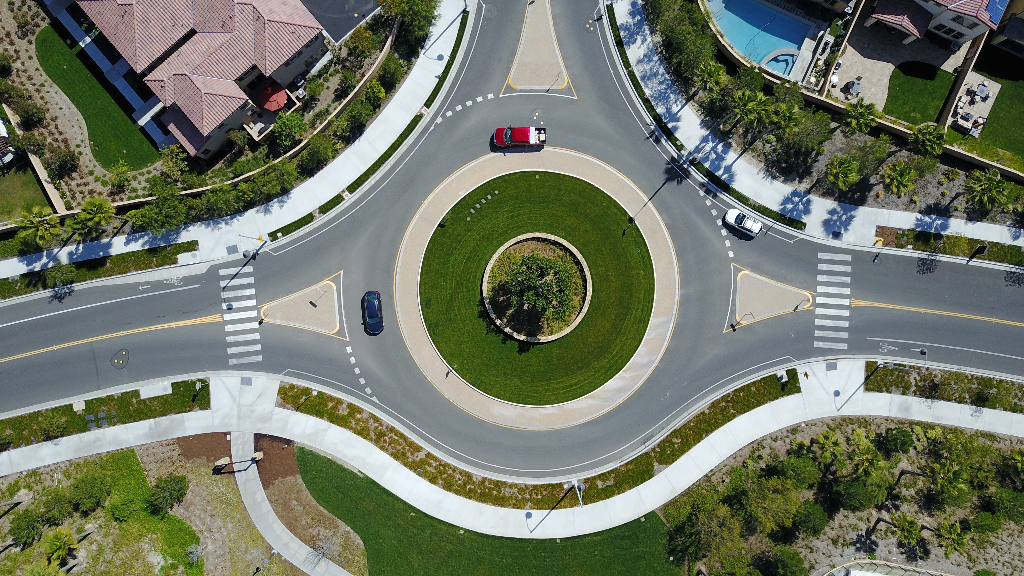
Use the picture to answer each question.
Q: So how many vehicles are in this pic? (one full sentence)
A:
Looking from above, you can make out 3 vehicles.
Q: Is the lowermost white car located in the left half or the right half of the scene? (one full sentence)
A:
You can find the lowermost white car on the right side of the picture.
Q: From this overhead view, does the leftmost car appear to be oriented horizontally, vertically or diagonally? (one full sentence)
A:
In this picture, the leftmost car is oriented vertically.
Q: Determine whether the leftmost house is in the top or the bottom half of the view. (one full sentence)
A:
The leftmost house sits in the top half of the picture.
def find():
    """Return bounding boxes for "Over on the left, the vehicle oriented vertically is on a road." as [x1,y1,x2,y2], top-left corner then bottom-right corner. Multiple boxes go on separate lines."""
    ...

[362,290,382,334]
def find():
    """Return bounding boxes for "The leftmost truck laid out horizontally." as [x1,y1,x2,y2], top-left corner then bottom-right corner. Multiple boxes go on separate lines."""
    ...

[491,122,549,147]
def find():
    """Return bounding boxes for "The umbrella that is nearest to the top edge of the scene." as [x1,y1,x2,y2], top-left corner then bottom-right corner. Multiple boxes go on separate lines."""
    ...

[261,87,289,116]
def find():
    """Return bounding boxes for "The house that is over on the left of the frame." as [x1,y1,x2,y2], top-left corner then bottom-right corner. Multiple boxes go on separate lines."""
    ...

[75,0,332,157]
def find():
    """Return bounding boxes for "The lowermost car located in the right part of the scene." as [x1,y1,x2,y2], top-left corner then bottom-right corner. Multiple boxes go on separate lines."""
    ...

[722,208,767,238]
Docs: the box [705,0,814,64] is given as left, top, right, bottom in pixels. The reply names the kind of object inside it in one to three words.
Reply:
swimming pool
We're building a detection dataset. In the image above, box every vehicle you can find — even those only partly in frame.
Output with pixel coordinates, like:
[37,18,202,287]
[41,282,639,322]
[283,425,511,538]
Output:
[491,122,549,147]
[362,290,382,334]
[722,208,767,238]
